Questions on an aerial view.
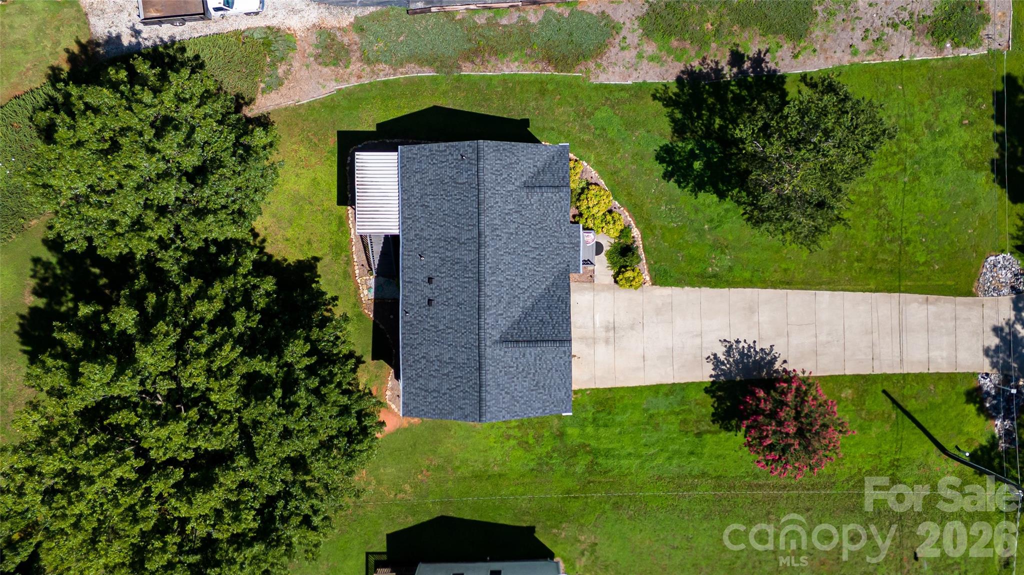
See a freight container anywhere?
No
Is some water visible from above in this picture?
No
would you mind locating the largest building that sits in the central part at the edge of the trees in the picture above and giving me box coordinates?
[396,140,583,423]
